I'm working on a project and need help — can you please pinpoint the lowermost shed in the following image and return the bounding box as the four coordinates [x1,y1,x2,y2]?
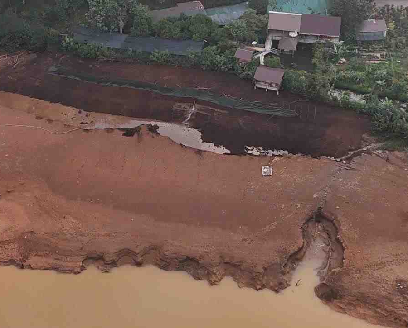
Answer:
[254,66,284,102]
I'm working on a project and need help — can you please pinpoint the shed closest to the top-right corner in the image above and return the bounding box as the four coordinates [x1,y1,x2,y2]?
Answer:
[356,19,386,45]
